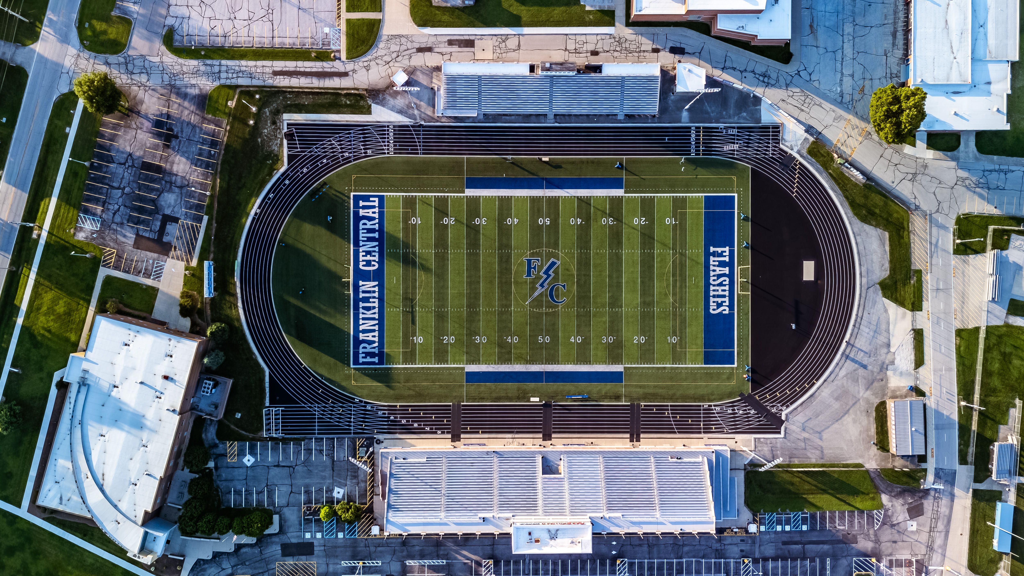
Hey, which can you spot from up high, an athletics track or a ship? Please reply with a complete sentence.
Of the two, only an athletics track appears.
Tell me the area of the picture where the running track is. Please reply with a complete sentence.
The running track is in the center part of the image.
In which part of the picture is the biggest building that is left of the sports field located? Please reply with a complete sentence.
You can find the biggest building that is left of the sports field in the bottom left area of the picture.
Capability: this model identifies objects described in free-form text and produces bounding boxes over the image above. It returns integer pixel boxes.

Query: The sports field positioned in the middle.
[271,156,751,403]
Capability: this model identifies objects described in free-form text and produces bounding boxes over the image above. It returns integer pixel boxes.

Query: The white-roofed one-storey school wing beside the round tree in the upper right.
[895,0,1019,133]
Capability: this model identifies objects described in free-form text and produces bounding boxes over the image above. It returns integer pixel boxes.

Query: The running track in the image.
[237,118,860,438]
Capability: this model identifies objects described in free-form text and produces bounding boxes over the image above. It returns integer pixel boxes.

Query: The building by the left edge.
[37,315,209,565]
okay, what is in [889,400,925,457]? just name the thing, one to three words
building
